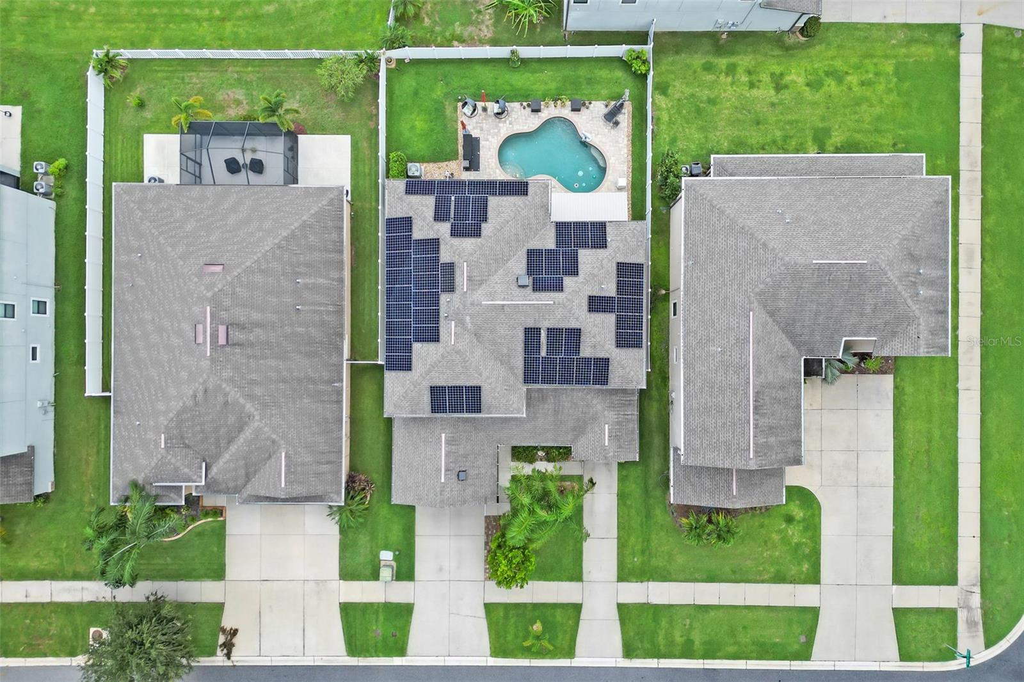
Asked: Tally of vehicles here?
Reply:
0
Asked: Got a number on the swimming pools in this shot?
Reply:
one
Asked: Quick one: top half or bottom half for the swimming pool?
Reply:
top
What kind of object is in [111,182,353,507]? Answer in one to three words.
house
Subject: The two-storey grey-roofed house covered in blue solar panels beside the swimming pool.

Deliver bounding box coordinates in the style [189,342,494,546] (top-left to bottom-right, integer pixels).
[385,178,646,509]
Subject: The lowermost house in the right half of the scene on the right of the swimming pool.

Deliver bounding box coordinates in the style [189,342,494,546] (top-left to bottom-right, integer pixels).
[668,153,952,511]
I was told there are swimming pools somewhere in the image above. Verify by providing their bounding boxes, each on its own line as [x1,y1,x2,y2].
[494,112,612,191]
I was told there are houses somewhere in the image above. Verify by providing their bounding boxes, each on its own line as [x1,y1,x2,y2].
[385,178,646,509]
[0,169,61,504]
[668,153,952,511]
[566,0,824,35]
[111,182,353,507]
